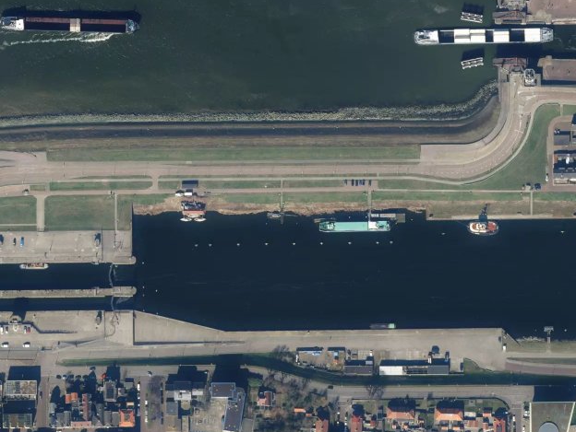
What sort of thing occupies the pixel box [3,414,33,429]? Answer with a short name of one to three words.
building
